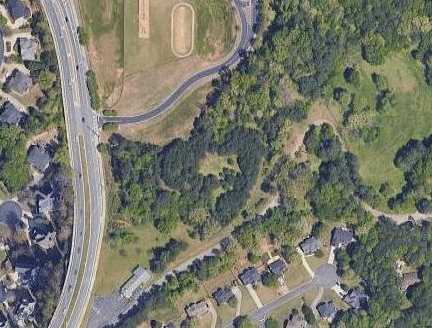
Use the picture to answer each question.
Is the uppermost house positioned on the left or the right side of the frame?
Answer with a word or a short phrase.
left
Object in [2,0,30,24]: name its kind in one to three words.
house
